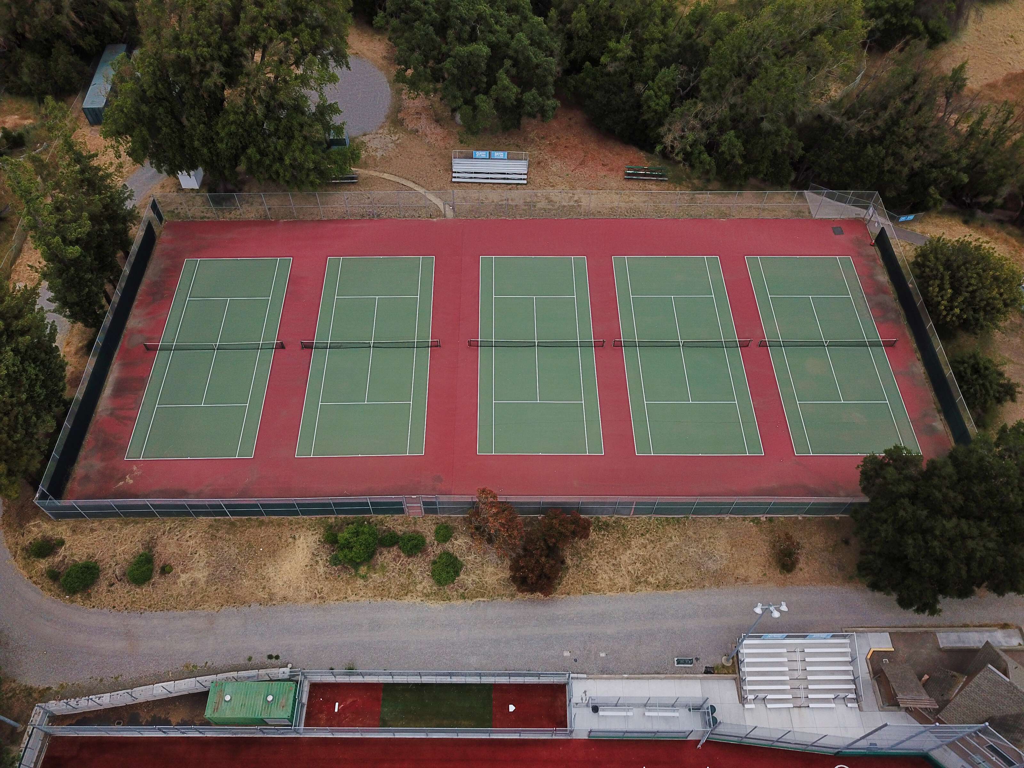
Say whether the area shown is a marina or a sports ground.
sports ground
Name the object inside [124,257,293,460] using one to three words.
tennis court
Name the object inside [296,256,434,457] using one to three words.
tennis court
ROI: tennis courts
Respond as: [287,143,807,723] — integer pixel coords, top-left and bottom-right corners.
[613,256,763,456]
[296,256,434,457]
[745,256,922,456]
[124,257,293,460]
[477,255,604,456]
